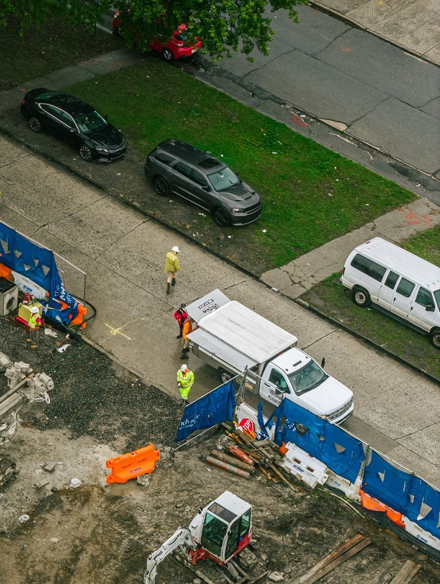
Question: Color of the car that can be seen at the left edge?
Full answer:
From above, the car that can be seen at the left edge appears black.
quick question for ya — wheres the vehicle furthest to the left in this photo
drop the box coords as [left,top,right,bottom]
[17,81,140,157]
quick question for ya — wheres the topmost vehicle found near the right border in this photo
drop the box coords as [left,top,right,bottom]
[327,222,440,344]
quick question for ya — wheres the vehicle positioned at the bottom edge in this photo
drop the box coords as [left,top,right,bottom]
[145,491,284,584]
